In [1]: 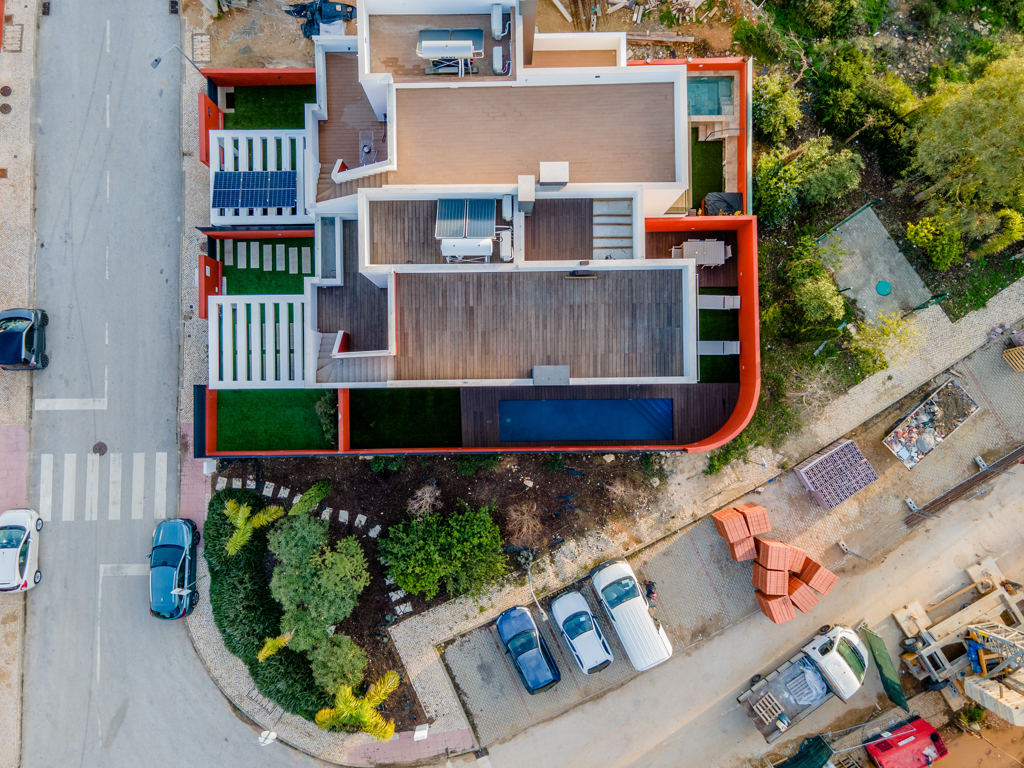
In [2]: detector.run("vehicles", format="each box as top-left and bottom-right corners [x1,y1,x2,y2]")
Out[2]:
[0,505,47,595]
[136,515,197,621]
[0,306,57,371]
[735,614,872,741]
[496,600,567,701]
[587,548,685,685]
[549,584,619,683]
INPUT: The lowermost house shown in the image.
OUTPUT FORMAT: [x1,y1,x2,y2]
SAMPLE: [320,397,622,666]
[208,175,700,390]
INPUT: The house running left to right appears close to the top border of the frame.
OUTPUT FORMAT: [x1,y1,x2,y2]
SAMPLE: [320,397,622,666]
[209,0,688,227]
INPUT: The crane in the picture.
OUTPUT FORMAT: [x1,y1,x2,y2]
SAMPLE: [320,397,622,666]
[896,570,1024,700]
